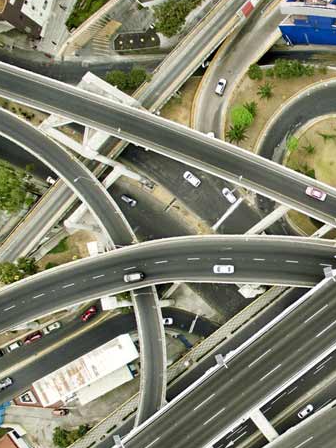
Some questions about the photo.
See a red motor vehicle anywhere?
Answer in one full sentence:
Yes, the frame does contain a red motor vehicle.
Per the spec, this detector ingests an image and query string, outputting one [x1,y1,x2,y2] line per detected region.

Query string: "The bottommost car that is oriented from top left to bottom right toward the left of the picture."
[121,193,138,207]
